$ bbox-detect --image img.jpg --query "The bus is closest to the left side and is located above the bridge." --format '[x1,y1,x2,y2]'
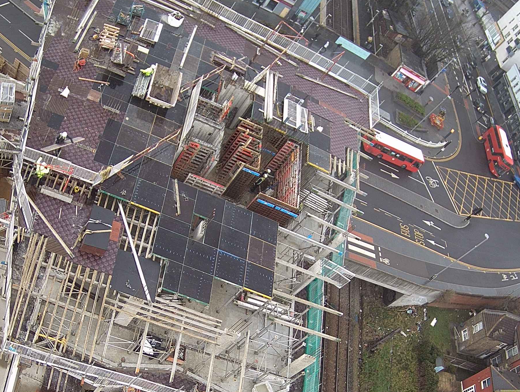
[364,134,428,172]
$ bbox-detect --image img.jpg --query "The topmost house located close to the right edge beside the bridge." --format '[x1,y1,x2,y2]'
[455,309,520,379]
